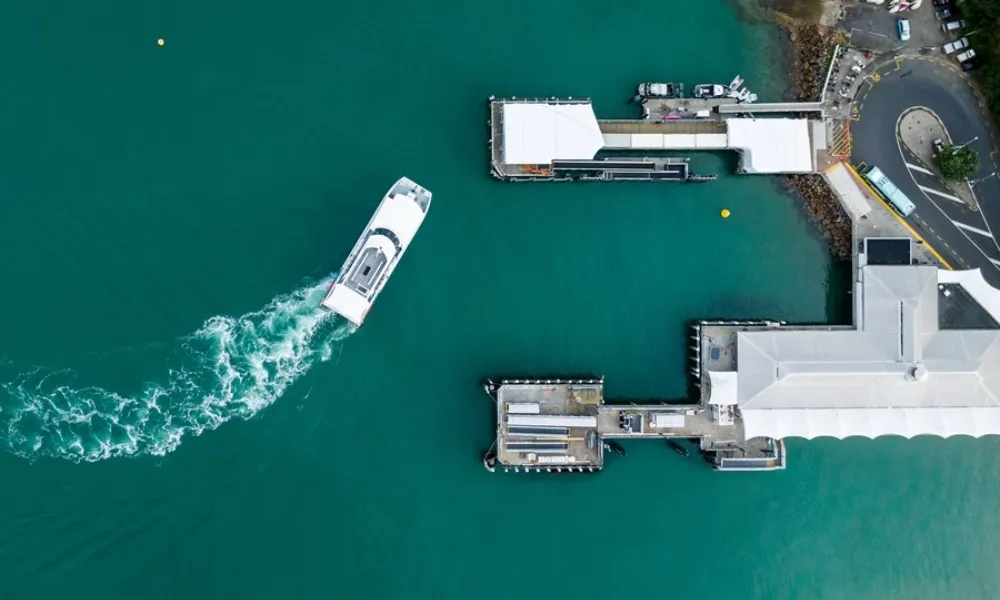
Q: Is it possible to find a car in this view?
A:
Yes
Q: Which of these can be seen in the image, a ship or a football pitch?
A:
ship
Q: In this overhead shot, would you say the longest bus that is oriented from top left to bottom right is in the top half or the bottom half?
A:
top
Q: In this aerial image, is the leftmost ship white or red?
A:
white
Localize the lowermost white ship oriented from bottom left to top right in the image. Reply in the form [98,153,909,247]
[321,177,433,328]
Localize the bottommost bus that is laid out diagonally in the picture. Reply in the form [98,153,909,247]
[860,166,915,217]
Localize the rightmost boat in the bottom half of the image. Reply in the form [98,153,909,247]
[668,439,688,455]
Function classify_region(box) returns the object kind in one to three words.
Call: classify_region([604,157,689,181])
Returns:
pier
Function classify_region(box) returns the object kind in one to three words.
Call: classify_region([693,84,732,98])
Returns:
boat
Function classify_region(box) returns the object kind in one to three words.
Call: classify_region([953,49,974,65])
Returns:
car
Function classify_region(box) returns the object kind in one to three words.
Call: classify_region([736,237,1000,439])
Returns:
building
